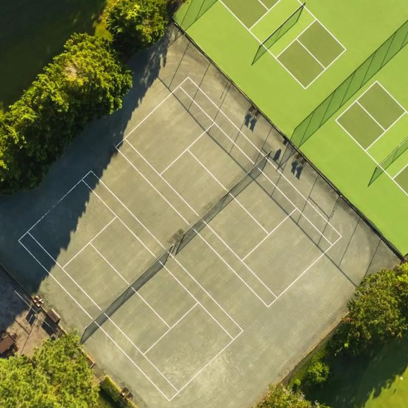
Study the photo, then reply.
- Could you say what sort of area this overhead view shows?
sports ground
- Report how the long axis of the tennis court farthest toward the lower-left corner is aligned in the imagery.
diagonally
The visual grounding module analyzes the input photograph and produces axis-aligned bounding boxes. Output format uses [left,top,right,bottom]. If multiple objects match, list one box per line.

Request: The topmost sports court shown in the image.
[220,0,347,89]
